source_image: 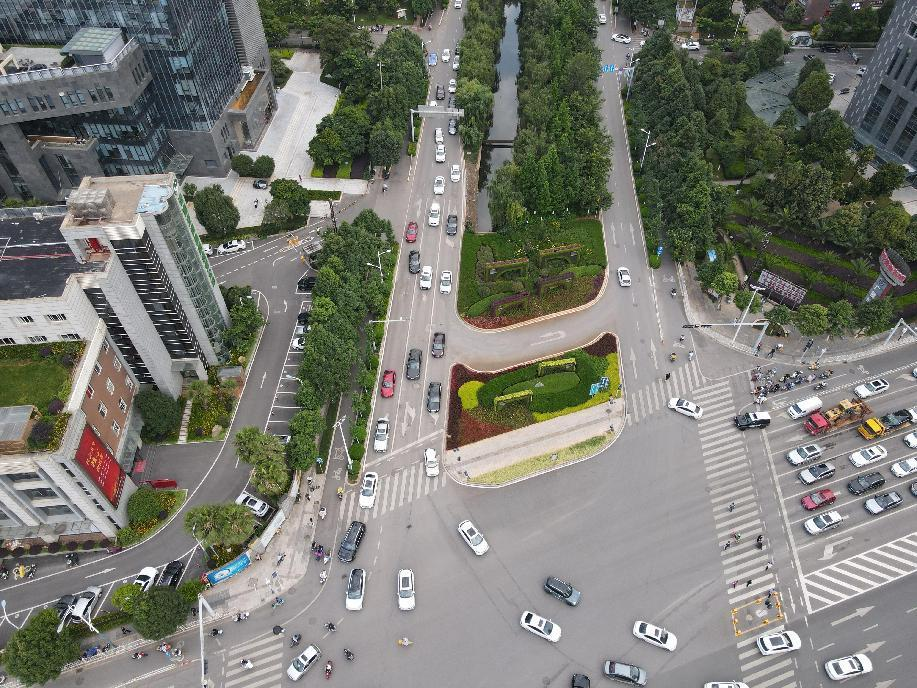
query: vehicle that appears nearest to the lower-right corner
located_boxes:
[822,653,874,681]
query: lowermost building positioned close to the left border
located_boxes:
[0,168,236,554]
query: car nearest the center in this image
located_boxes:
[431,333,445,358]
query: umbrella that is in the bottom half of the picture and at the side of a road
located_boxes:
[269,619,283,633]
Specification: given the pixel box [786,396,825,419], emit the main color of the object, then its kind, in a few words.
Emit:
white vehicle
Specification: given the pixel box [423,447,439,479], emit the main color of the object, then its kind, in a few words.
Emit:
white car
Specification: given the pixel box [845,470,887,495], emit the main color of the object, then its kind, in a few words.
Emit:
gray car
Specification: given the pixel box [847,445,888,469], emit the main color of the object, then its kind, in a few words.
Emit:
white car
